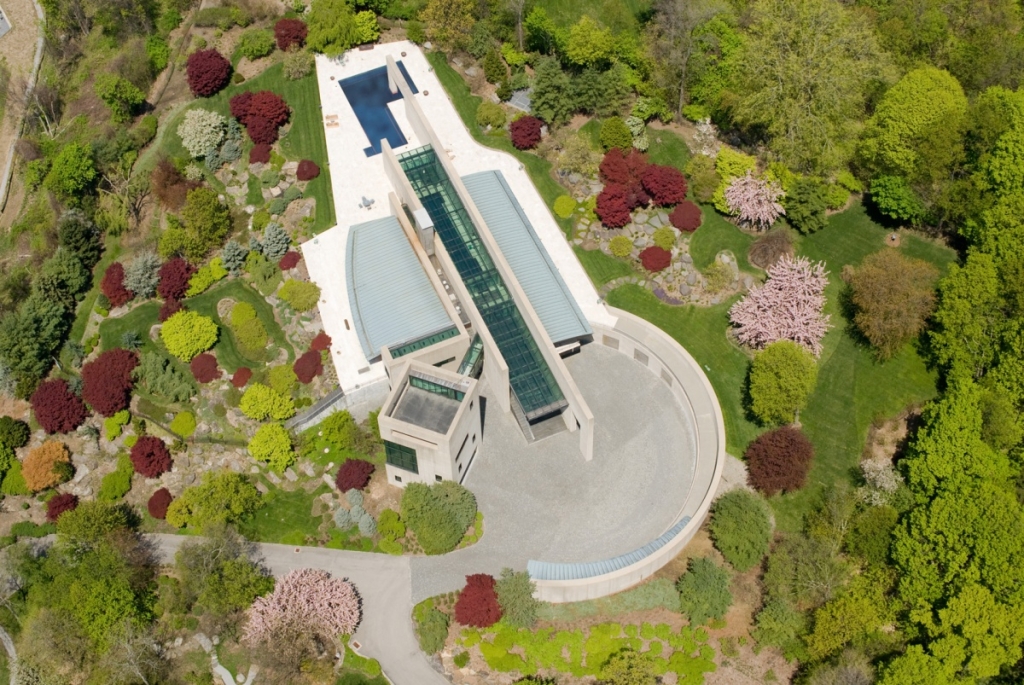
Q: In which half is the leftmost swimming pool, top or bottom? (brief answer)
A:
top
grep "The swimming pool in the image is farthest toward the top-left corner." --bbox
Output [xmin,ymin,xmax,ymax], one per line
[340,62,418,156]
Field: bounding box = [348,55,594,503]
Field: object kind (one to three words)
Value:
house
